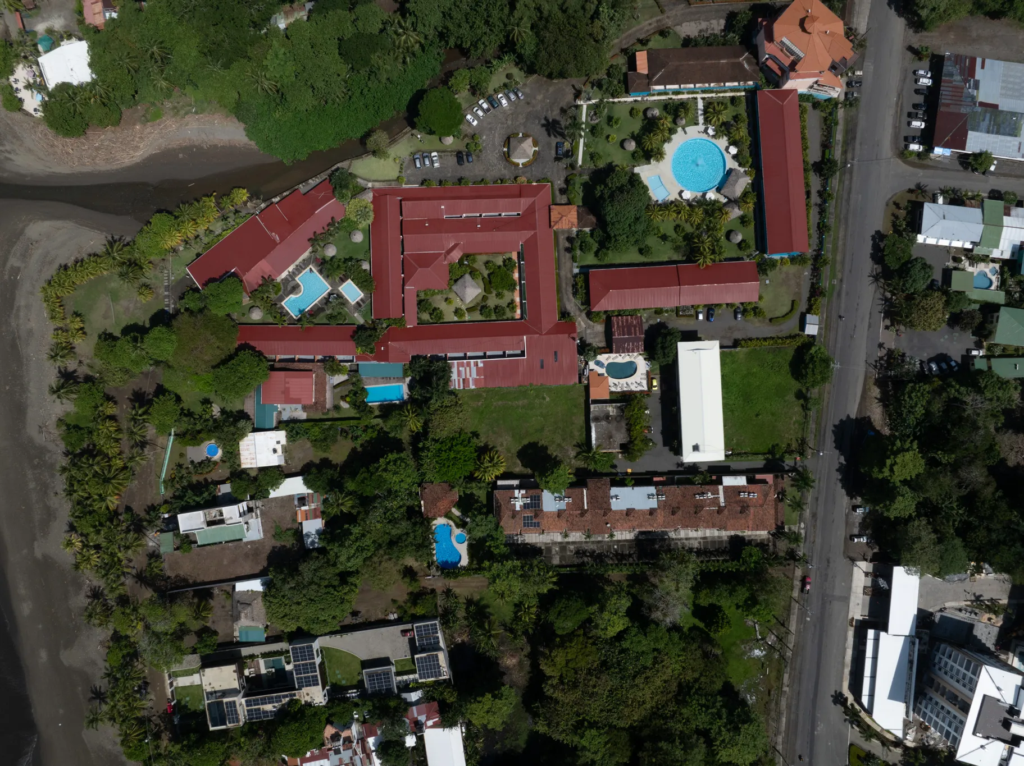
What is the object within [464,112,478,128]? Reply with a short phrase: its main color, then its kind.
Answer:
white car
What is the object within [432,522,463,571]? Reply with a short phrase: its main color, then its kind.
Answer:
blue swimming pool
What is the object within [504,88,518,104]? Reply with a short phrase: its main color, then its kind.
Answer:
gray car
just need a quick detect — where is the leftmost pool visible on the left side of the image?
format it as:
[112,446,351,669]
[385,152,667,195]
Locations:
[205,443,220,458]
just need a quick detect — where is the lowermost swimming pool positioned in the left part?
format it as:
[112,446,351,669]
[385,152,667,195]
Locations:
[262,656,288,690]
